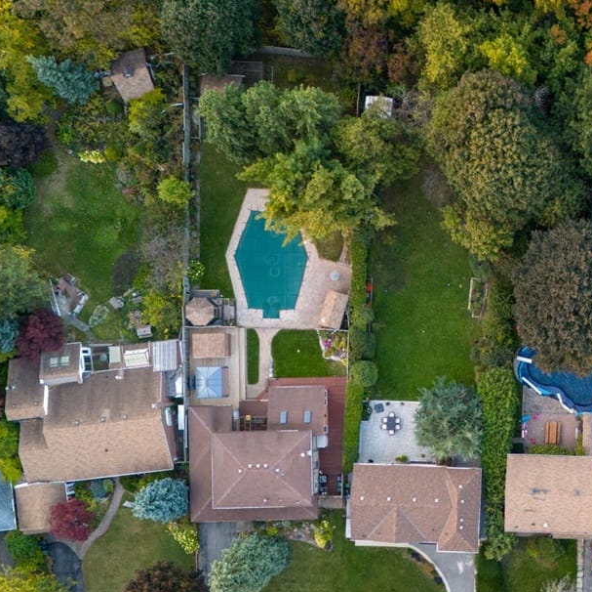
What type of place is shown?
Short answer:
residential area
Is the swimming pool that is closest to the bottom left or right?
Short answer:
right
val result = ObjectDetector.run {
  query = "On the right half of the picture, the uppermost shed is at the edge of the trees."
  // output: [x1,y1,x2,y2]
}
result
[365,96,393,121]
